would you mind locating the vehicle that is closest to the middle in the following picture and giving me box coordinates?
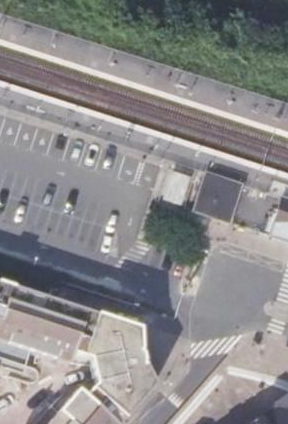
[105,212,119,234]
